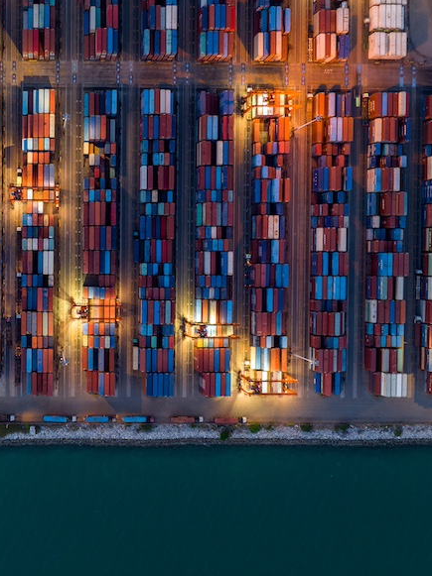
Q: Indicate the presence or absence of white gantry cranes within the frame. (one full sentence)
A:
No, there appears to be no white gantry crane in this shot.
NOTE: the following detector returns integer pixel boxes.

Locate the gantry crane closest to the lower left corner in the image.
[71,300,126,323]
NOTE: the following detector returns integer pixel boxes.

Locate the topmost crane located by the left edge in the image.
[9,184,63,209]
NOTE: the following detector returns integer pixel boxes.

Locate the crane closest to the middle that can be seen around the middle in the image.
[186,318,245,341]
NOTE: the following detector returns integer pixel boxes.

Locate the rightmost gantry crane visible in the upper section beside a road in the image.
[242,88,304,119]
